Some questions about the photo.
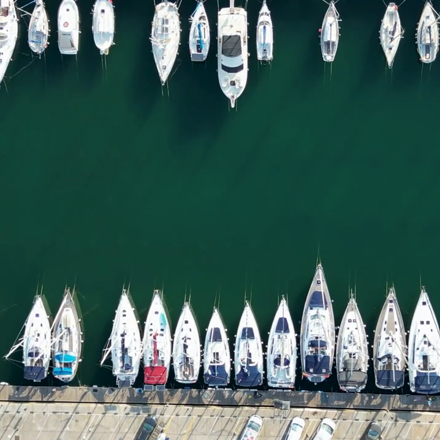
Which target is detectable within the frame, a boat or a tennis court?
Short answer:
boat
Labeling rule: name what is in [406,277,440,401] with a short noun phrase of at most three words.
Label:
boat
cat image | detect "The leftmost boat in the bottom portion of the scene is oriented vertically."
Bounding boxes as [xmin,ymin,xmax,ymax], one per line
[6,279,53,389]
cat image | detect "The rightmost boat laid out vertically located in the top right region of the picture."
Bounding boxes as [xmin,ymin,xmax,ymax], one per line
[414,0,440,80]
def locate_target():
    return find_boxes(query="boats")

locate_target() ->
[170,293,201,391]
[202,299,231,392]
[233,281,263,394]
[56,0,82,55]
[372,276,411,394]
[6,279,53,389]
[215,0,249,107]
[149,0,182,90]
[406,277,440,401]
[139,275,171,392]
[92,0,118,65]
[300,258,335,389]
[255,0,275,62]
[0,0,21,80]
[264,290,296,394]
[23,0,52,62]
[334,278,369,400]
[378,0,403,79]
[187,0,211,77]
[414,0,440,80]
[318,0,341,69]
[39,276,85,387]
[105,281,141,393]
